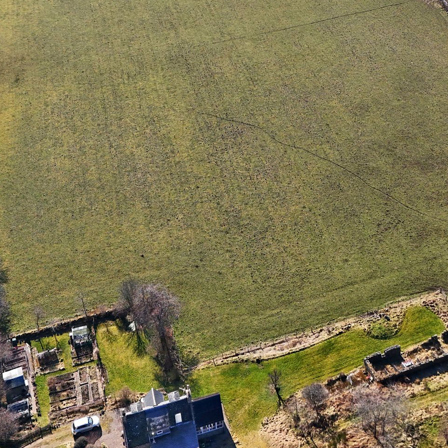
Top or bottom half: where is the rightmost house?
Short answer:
bottom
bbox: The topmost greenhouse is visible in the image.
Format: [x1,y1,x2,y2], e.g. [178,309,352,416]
[72,329,90,353]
